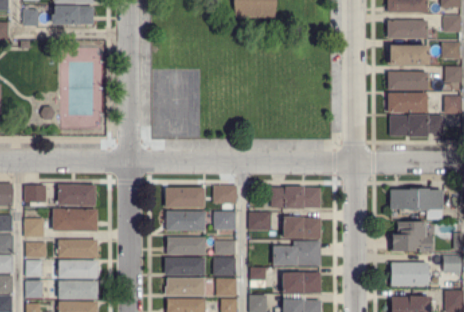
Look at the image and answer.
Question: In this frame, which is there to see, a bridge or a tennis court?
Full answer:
This aerial view contains a tennis court.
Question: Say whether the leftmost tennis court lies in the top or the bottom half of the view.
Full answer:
You can find the leftmost tennis court in the top half.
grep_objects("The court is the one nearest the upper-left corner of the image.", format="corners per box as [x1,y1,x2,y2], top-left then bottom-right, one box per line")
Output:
[58,40,104,134]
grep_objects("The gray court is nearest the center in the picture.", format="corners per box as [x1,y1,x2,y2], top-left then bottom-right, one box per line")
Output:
[150,69,200,138]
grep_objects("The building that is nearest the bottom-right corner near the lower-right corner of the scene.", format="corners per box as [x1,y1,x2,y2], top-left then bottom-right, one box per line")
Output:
[444,290,462,312]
